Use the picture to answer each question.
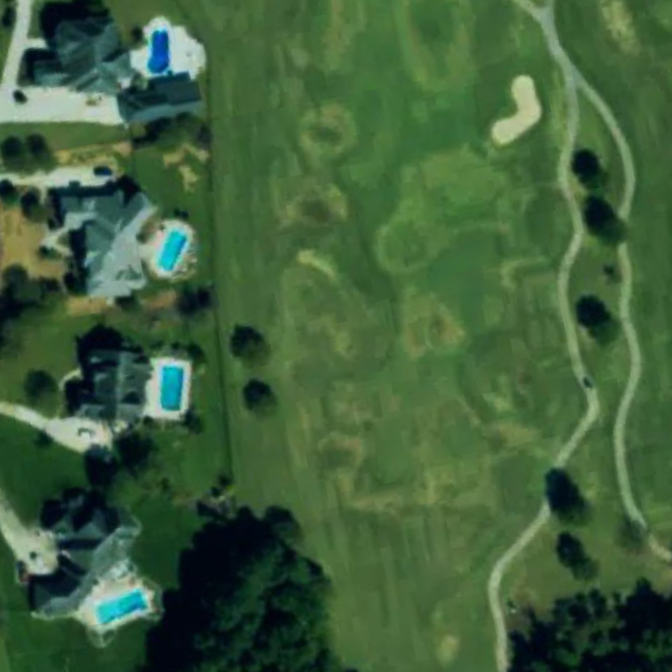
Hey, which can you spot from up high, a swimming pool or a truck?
swimming pool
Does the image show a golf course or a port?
golf course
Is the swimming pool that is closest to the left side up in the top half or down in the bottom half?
bottom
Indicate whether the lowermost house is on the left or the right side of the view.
left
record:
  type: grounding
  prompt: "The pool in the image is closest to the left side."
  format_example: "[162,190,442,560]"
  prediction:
[75,576,159,629]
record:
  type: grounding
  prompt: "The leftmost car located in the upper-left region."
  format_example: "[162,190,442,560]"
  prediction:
[14,88,27,104]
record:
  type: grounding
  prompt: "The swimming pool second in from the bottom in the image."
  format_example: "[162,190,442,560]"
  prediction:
[144,359,191,420]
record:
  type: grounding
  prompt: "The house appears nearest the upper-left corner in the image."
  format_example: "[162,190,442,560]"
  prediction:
[27,6,135,102]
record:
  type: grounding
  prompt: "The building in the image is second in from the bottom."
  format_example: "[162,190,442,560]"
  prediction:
[64,348,149,423]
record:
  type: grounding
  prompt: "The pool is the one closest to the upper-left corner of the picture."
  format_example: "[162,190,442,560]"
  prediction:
[135,17,207,81]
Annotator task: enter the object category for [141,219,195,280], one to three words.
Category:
swimming pool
